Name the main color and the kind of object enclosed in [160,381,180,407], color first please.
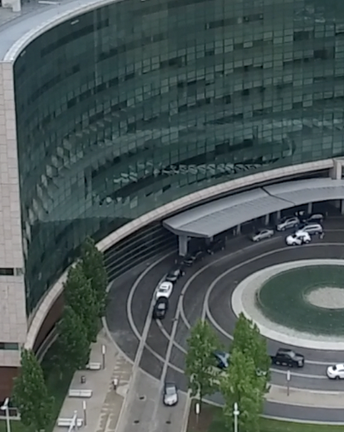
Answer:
gray car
